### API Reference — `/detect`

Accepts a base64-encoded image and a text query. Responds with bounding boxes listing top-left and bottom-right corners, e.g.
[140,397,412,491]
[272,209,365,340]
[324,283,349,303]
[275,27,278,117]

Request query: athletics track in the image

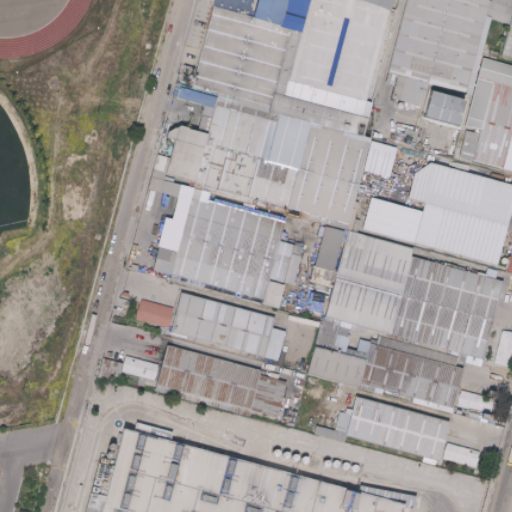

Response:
[0,0,90,58]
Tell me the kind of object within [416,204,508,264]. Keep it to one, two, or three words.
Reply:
building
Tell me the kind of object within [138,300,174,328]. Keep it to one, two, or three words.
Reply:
house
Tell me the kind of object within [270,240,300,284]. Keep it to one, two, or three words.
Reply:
building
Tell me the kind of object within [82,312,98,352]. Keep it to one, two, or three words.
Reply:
vehicle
